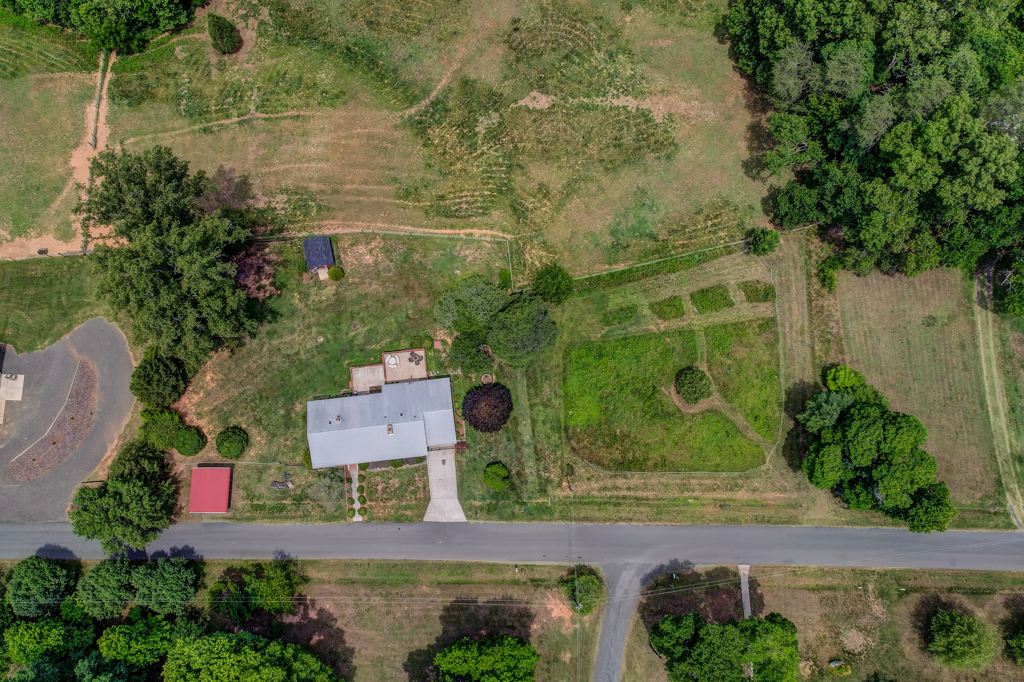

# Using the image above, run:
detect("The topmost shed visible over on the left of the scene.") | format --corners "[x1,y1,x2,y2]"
[302,235,337,279]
